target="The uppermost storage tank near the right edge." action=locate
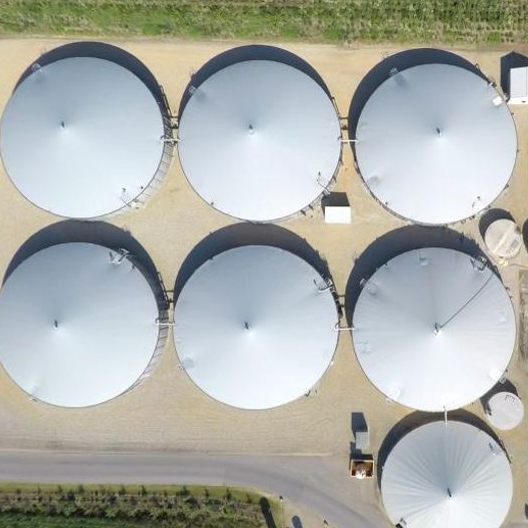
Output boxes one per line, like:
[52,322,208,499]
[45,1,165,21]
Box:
[355,63,520,228]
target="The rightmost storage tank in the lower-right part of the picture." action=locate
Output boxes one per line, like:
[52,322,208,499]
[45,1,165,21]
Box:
[485,389,523,428]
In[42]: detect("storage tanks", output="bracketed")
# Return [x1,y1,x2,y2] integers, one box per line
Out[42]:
[355,63,520,228]
[483,219,521,264]
[0,241,168,408]
[0,55,173,222]
[485,389,523,428]
[173,245,341,410]
[352,247,519,412]
[381,415,513,528]
[178,59,343,225]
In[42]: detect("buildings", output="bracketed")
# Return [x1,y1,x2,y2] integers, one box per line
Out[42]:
[506,66,528,101]
[313,192,352,224]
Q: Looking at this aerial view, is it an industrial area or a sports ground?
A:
industrial area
